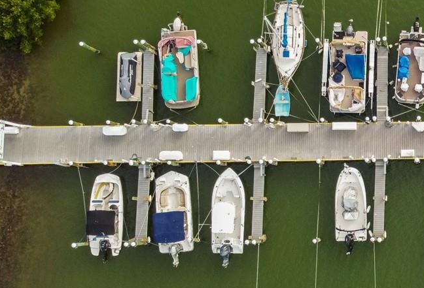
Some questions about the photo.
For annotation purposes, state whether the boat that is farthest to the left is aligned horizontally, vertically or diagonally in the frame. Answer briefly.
vertically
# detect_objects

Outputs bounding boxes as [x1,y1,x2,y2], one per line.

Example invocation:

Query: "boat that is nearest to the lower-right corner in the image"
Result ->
[335,162,371,255]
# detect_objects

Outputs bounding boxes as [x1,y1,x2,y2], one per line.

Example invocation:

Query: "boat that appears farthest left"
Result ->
[87,174,127,263]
